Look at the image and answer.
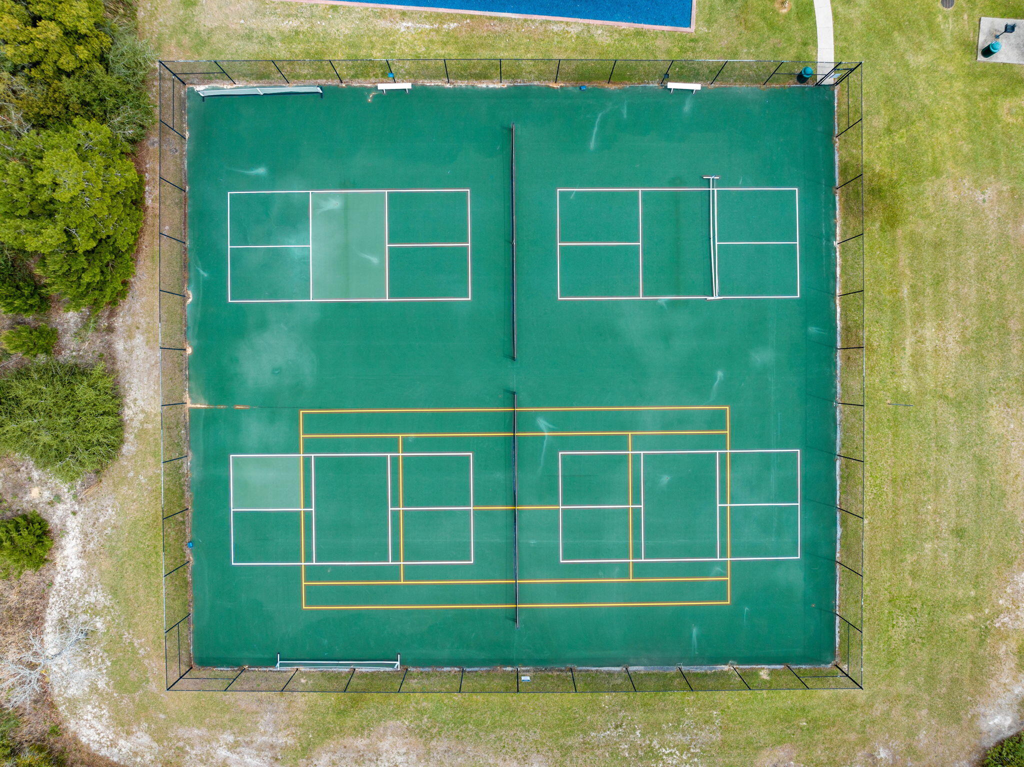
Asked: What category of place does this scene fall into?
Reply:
sports ground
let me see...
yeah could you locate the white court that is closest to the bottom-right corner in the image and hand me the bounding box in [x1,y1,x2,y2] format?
[558,449,801,563]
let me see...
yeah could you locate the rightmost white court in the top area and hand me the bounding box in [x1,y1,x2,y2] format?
[556,187,801,301]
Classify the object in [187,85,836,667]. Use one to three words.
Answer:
sports court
